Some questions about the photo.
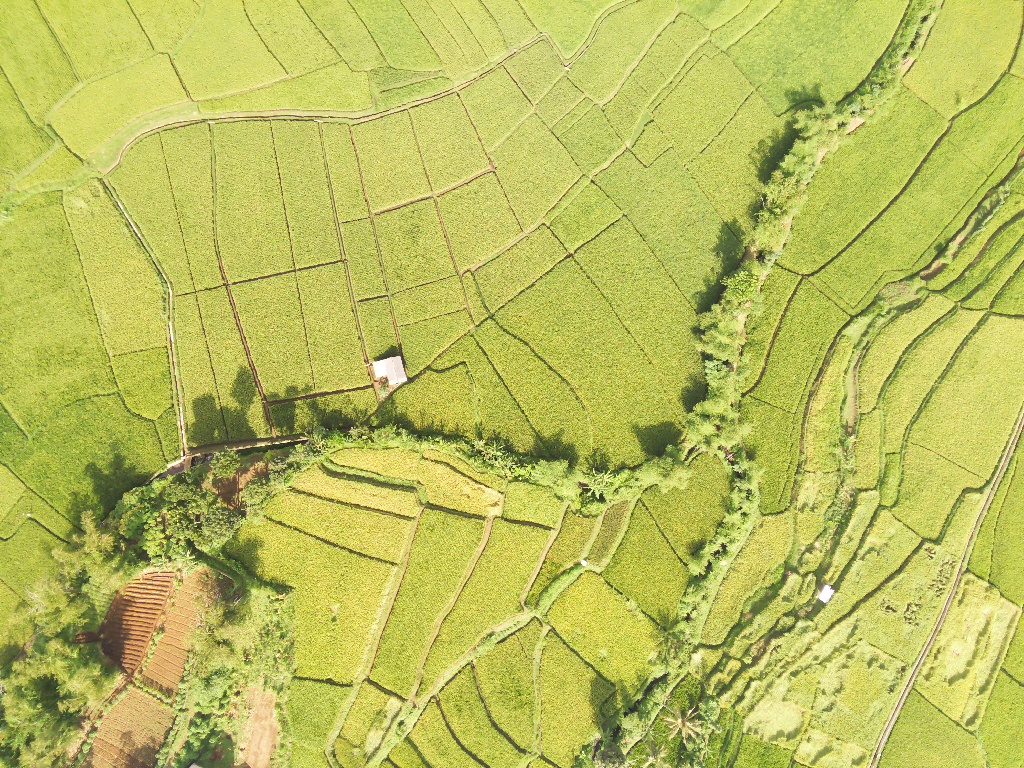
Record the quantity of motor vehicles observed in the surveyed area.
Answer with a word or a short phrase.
none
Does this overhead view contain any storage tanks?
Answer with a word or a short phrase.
No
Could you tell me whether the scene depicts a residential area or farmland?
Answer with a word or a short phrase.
farmland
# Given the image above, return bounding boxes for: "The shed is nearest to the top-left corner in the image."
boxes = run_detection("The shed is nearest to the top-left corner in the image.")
[372,355,407,384]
